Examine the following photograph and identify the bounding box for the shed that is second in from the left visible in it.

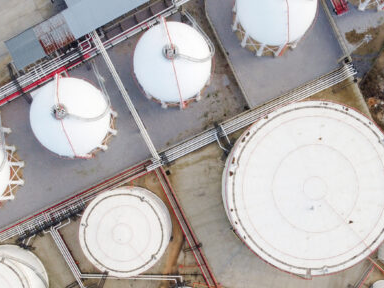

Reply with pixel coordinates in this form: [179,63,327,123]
[33,10,77,59]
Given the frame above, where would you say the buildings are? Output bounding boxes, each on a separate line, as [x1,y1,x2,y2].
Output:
[33,10,77,59]
[5,28,48,73]
[59,0,153,45]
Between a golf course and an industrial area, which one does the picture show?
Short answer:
industrial area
